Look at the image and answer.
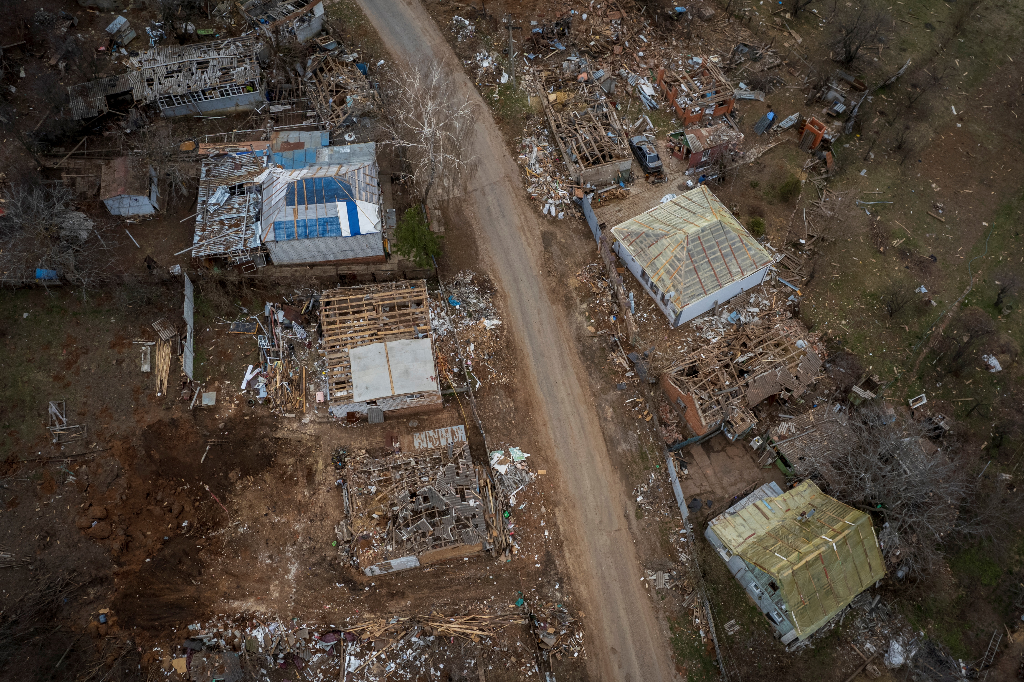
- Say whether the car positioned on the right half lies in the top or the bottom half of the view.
top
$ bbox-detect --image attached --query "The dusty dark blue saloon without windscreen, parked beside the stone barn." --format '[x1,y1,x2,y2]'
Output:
[631,135,665,172]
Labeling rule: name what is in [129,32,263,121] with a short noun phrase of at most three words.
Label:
building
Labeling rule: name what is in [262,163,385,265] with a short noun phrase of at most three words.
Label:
house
